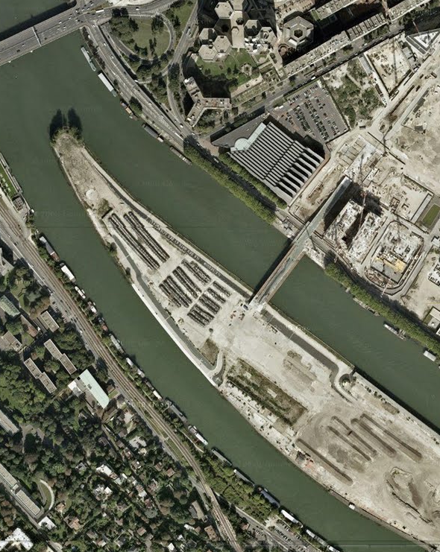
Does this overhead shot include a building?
Yes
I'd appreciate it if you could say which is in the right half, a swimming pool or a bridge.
bridge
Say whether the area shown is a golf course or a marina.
marina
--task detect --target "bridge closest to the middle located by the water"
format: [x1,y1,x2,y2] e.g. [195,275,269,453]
[251,177,352,307]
